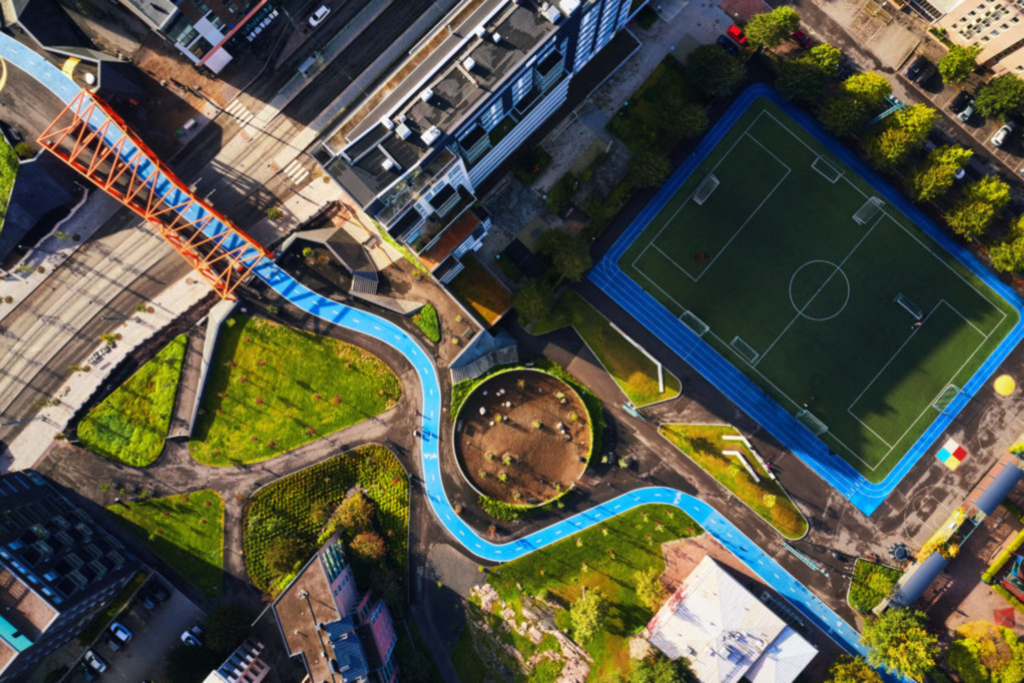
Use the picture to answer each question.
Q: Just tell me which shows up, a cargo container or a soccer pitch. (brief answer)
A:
soccer pitch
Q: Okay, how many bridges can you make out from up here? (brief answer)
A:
1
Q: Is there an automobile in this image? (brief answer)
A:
Yes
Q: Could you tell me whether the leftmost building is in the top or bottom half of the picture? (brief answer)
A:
bottom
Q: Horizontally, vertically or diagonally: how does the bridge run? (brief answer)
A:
diagonally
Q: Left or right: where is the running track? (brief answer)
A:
right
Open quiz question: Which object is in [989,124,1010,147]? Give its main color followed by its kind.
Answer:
white car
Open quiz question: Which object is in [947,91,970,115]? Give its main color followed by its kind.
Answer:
black car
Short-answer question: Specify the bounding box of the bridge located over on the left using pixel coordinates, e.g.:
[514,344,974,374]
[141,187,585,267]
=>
[36,90,285,304]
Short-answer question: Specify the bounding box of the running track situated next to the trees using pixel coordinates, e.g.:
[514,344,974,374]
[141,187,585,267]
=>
[588,80,1024,516]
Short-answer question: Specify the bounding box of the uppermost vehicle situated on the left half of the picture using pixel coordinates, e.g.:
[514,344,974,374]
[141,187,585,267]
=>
[307,6,331,28]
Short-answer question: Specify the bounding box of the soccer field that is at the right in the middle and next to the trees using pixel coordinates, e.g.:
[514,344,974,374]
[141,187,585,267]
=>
[621,99,1018,481]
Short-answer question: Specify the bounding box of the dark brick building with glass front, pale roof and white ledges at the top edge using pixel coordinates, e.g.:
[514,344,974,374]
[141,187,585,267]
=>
[123,0,269,81]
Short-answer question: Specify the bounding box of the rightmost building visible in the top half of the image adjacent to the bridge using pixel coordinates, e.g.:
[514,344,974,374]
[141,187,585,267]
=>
[305,0,672,290]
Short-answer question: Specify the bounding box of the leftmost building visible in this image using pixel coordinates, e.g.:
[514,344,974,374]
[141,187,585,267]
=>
[0,470,146,683]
